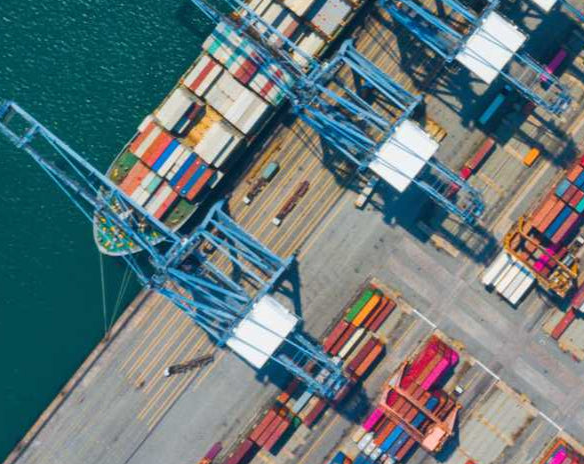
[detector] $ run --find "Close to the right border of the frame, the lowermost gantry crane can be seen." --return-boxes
[496,213,578,297]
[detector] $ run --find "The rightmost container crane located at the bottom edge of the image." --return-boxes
[376,360,459,452]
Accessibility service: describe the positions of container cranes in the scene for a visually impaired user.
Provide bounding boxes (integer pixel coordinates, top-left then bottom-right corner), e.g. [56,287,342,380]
[376,360,459,452]
[496,213,578,297]
[374,0,581,120]
[185,0,496,227]
[0,99,359,399]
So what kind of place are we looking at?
port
